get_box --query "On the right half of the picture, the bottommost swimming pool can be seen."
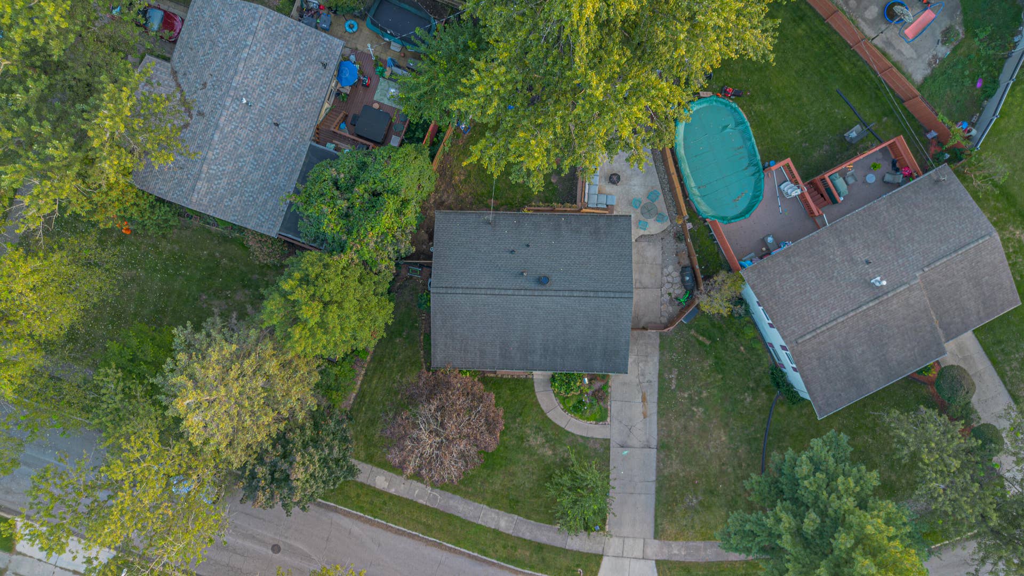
[672,94,763,226]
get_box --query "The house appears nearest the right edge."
[729,162,1021,421]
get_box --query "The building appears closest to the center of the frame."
[430,210,634,376]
